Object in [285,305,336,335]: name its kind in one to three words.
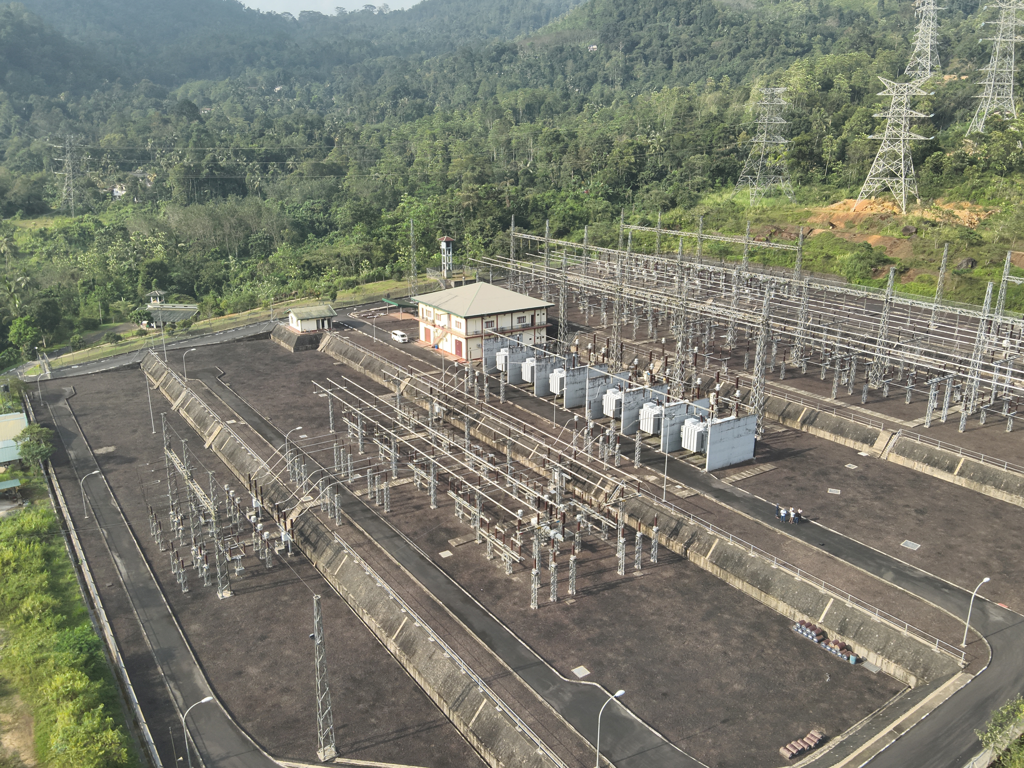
building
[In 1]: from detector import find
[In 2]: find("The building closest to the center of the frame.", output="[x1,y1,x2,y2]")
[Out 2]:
[411,282,561,363]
